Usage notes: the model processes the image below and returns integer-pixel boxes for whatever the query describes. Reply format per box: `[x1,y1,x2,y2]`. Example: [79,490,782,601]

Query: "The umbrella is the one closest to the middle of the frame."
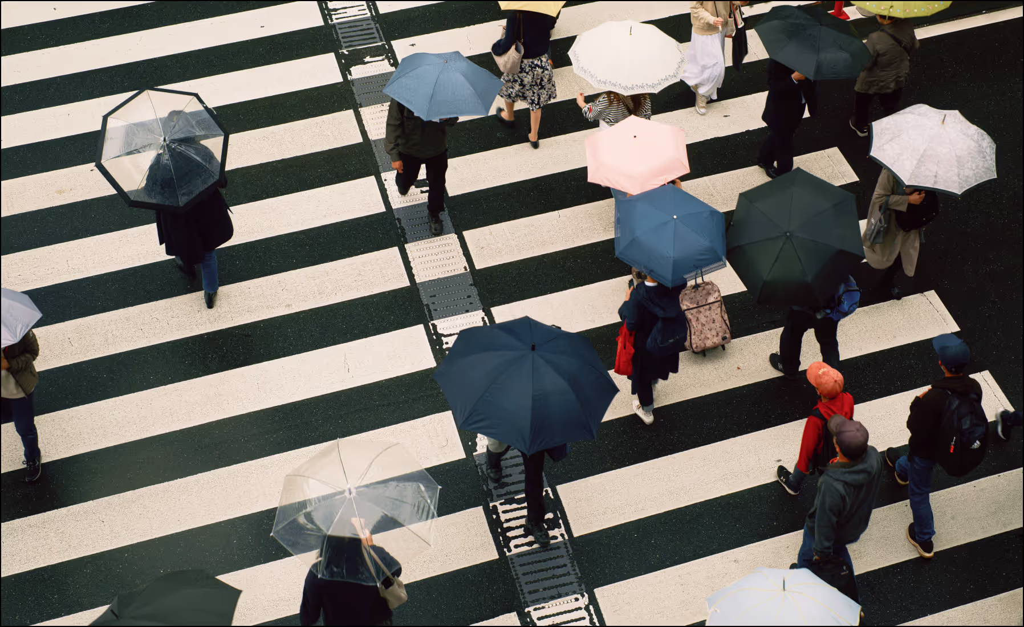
[431,314,619,456]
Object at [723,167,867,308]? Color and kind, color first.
black umbrella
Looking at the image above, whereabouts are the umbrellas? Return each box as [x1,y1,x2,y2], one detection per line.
[695,563,870,627]
[0,288,45,346]
[583,115,688,196]
[82,568,241,627]
[870,102,999,207]
[95,86,231,213]
[568,18,687,95]
[381,50,504,133]
[431,314,619,456]
[723,167,867,308]
[500,0,562,17]
[754,6,874,90]
[852,0,949,31]
[614,182,727,287]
